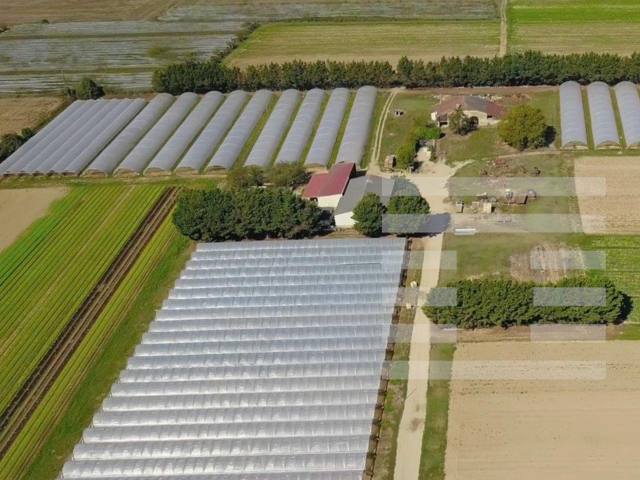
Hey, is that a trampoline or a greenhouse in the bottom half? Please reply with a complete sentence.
It is a greenhouse that can be seen in the bottom half.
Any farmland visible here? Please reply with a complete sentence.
Yes, there is farmland in the image.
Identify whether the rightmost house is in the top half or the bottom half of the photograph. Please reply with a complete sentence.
You can find the rightmost house in the top half.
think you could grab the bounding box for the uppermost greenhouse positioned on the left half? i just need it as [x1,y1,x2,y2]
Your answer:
[0,95,146,178]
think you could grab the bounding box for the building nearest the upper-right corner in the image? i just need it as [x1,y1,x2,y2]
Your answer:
[436,92,510,128]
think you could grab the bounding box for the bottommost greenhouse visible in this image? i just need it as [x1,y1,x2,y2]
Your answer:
[51,238,405,480]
